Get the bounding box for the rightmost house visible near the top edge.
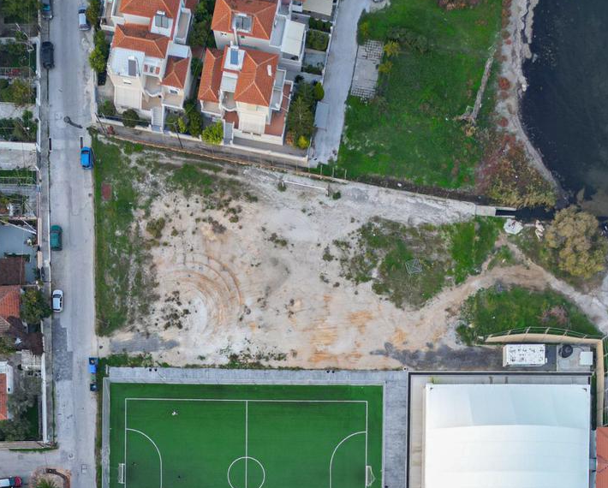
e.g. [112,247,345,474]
[197,0,333,147]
